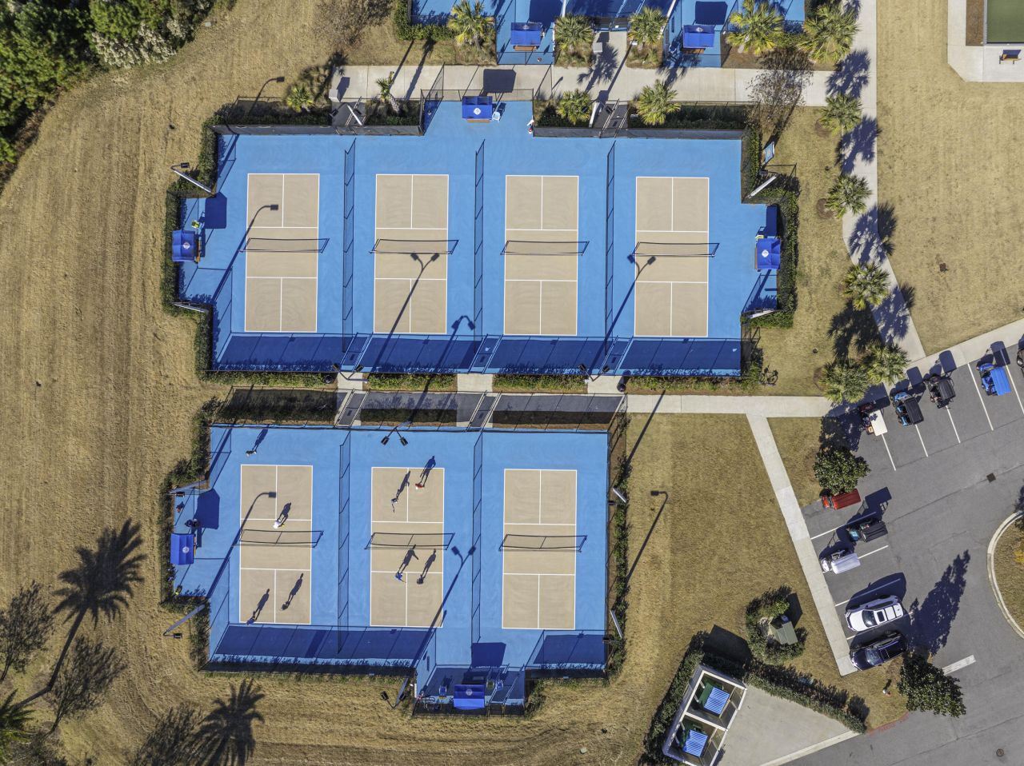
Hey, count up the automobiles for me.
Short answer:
2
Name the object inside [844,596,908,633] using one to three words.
car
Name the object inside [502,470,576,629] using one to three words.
sports court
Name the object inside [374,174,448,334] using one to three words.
sports court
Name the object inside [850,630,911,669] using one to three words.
car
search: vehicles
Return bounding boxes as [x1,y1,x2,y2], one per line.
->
[819,486,861,510]
[844,596,908,633]
[922,372,957,409]
[849,517,891,543]
[820,547,862,574]
[856,402,889,439]
[850,630,911,669]
[975,362,1011,395]
[890,392,926,429]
